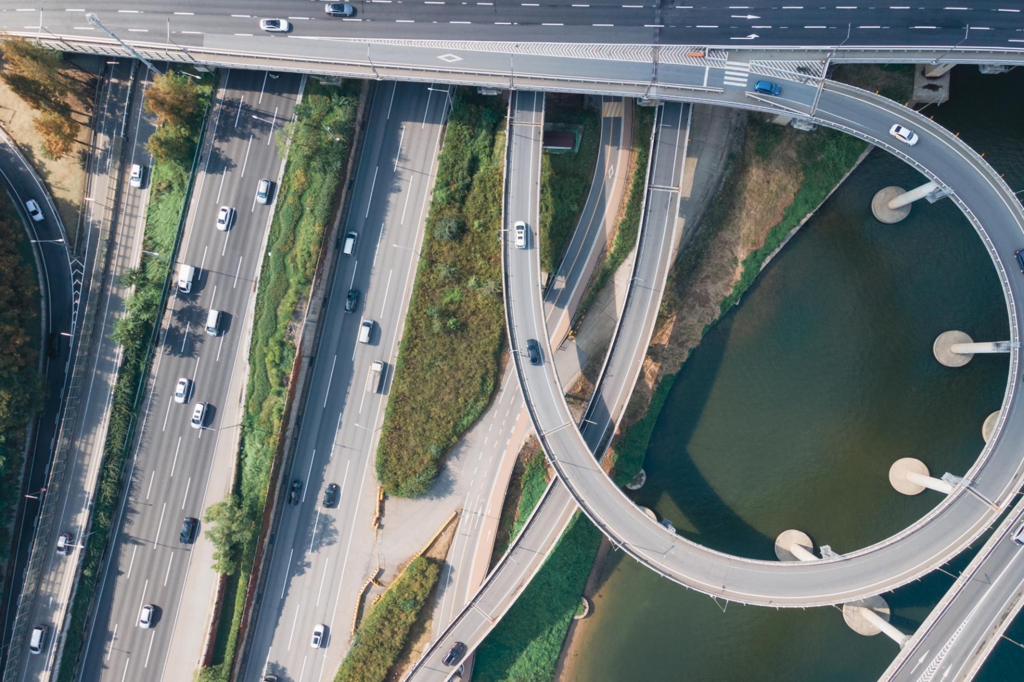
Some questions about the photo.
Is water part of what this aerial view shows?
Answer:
Yes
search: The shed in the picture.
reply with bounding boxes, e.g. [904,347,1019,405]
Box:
[542,127,575,146]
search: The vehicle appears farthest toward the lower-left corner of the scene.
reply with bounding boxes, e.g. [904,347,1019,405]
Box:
[28,627,45,653]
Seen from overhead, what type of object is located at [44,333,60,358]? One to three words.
vehicle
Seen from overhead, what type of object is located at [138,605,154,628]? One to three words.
car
